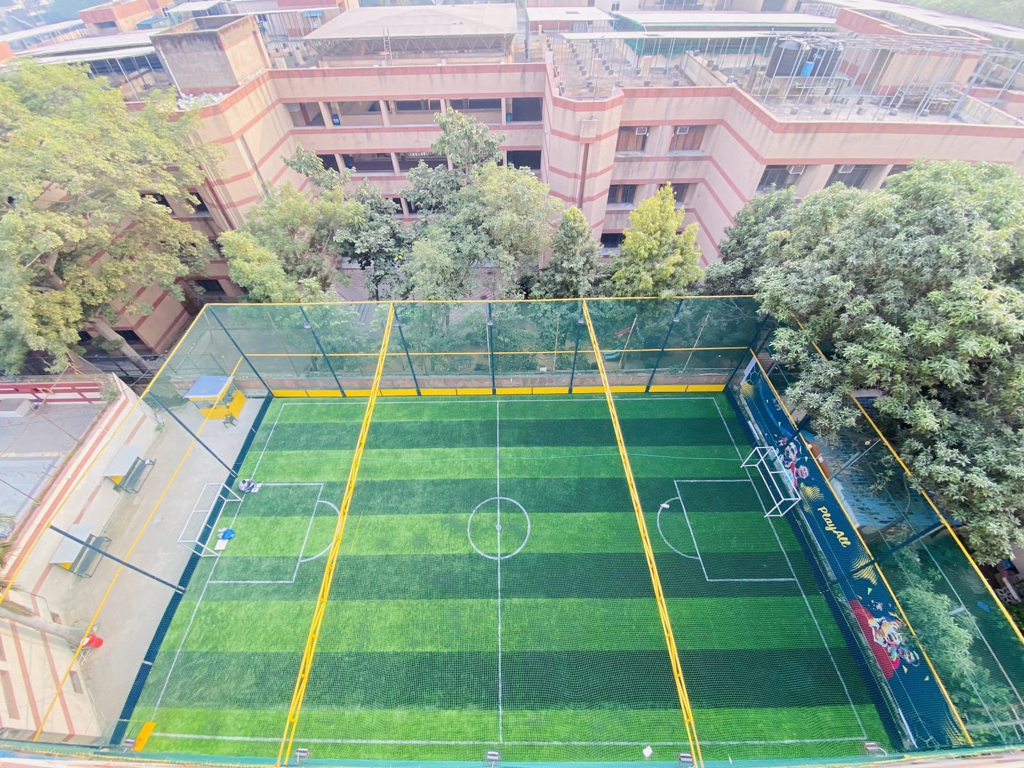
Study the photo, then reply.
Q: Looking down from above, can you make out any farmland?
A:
No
